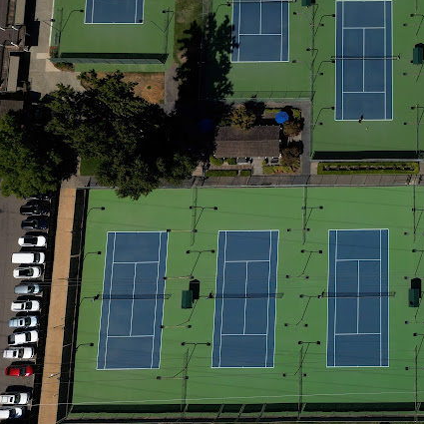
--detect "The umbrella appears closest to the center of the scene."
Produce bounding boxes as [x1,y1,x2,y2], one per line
[200,119,213,132]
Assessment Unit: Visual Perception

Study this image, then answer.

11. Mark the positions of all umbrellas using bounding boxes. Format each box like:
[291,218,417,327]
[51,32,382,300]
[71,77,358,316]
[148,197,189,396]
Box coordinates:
[200,119,213,132]
[276,110,290,123]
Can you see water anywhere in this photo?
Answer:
No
